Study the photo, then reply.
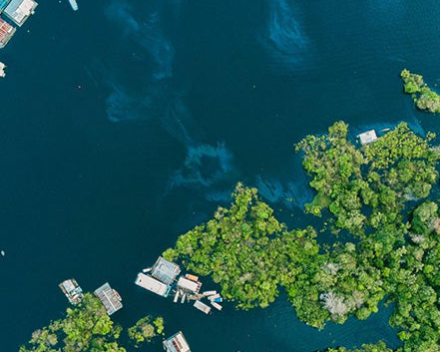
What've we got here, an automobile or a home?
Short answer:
home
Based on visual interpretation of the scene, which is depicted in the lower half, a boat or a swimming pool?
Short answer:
boat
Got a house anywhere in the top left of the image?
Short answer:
Yes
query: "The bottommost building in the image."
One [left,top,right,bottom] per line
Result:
[165,329,190,352]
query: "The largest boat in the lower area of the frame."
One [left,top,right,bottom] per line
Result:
[135,271,172,297]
